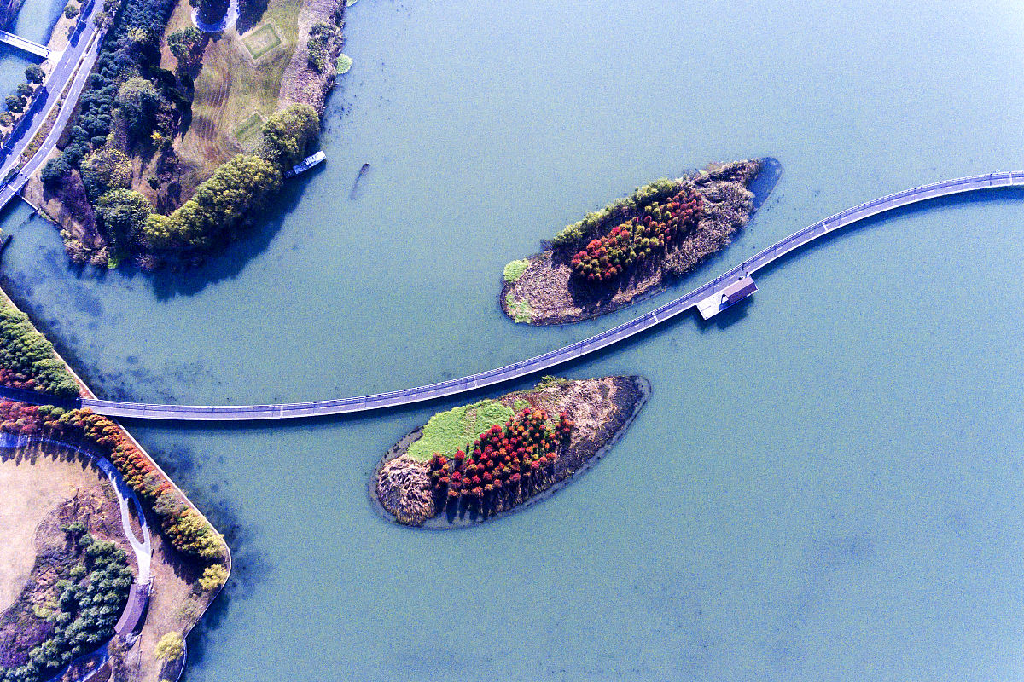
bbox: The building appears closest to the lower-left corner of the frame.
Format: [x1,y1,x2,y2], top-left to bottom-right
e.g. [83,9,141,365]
[114,581,151,636]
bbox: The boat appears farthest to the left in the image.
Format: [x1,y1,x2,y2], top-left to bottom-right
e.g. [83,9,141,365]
[303,150,325,168]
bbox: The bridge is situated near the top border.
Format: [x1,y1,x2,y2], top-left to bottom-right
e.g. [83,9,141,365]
[0,27,52,60]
